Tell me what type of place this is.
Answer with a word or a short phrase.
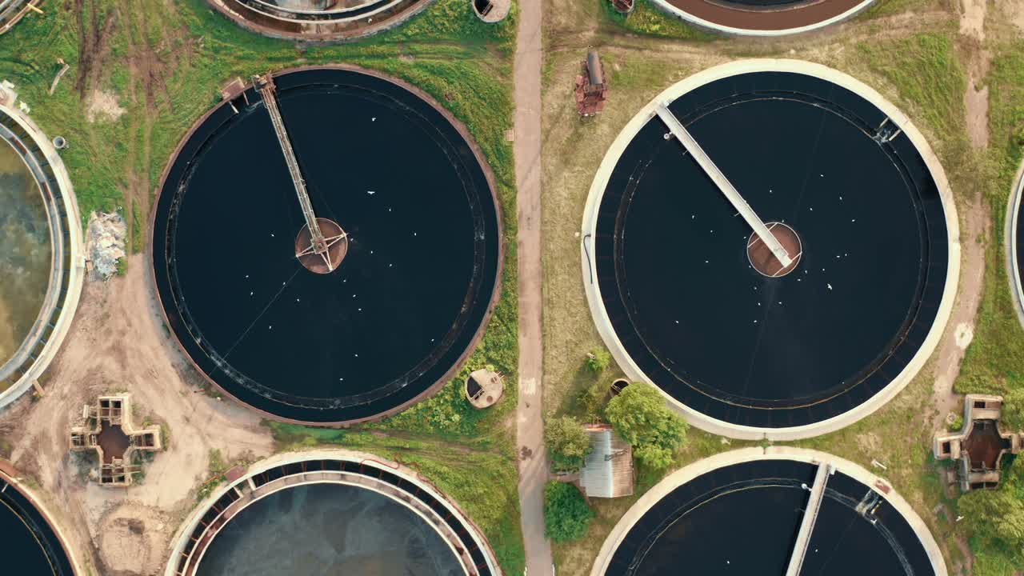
industrial area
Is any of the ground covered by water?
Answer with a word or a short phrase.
Yes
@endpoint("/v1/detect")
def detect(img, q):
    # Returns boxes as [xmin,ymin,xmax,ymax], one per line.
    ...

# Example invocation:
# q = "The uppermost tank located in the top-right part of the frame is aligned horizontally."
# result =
[645,0,875,40]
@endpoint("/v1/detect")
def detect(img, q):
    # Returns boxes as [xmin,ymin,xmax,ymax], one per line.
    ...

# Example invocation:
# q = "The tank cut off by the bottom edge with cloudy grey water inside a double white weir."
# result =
[164,449,502,576]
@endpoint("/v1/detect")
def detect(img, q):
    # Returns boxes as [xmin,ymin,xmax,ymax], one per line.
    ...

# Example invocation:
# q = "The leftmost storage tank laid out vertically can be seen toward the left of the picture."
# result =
[0,95,88,410]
